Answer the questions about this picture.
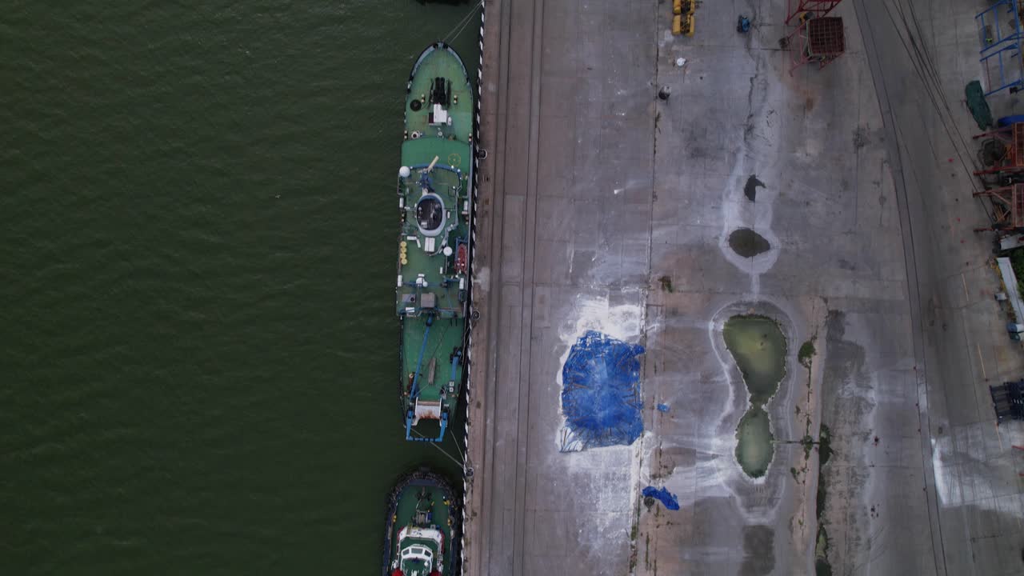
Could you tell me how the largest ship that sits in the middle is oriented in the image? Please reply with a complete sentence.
In this picture, the largest ship that sits in the middle is oriented from top to bottom.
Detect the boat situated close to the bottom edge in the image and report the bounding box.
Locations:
[383,469,462,576]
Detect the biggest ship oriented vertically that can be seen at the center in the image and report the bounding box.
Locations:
[396,37,474,443]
